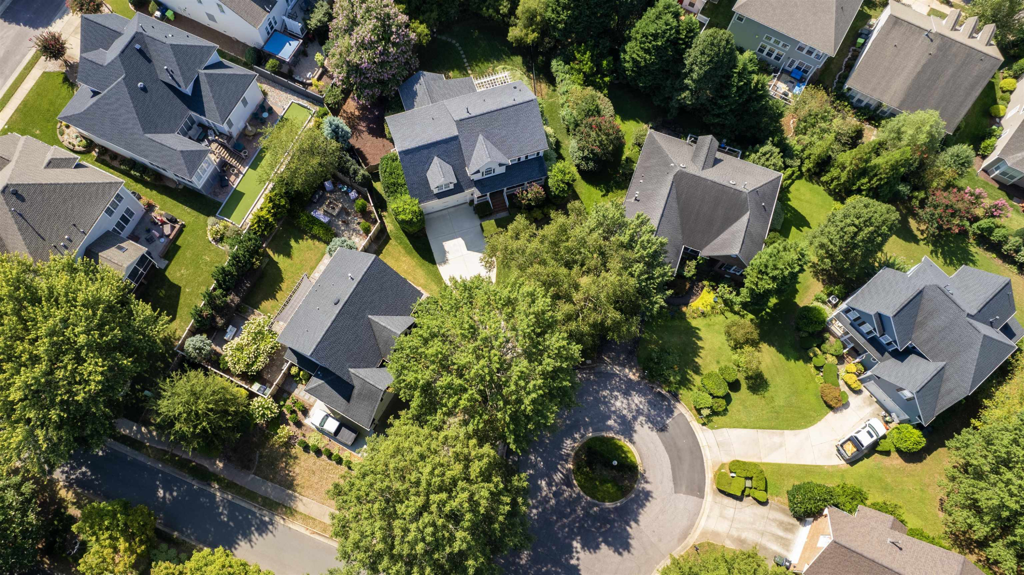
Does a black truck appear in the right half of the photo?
No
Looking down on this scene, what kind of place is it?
residential area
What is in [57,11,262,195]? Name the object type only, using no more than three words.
house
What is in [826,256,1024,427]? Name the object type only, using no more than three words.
house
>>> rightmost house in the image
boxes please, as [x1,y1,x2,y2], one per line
[985,105,1024,192]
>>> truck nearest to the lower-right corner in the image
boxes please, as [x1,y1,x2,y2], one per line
[838,418,886,459]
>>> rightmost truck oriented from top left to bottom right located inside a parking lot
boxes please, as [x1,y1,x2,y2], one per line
[310,409,359,447]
